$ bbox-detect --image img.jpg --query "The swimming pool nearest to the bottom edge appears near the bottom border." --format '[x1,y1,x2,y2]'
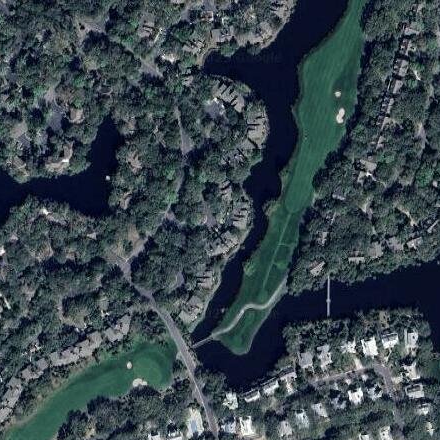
[186,407,203,436]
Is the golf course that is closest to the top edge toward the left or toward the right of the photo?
right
